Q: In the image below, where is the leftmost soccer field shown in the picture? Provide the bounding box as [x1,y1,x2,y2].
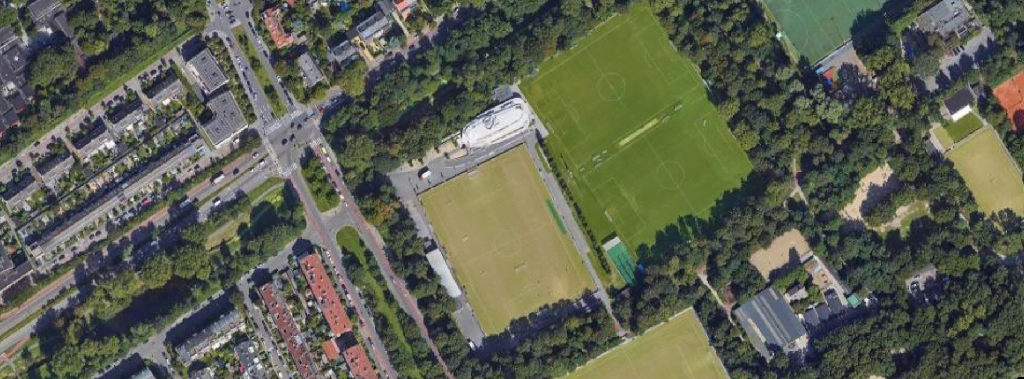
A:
[421,146,598,335]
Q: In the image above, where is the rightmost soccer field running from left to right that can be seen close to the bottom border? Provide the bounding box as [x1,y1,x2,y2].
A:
[565,308,728,379]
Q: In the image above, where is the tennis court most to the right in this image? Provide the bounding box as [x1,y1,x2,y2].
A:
[993,68,1024,136]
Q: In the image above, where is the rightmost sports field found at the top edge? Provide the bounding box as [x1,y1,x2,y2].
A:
[771,0,914,66]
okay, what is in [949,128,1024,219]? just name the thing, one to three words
soccer field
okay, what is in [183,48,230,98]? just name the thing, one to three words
building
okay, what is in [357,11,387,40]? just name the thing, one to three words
house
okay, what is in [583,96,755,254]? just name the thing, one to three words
soccer field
